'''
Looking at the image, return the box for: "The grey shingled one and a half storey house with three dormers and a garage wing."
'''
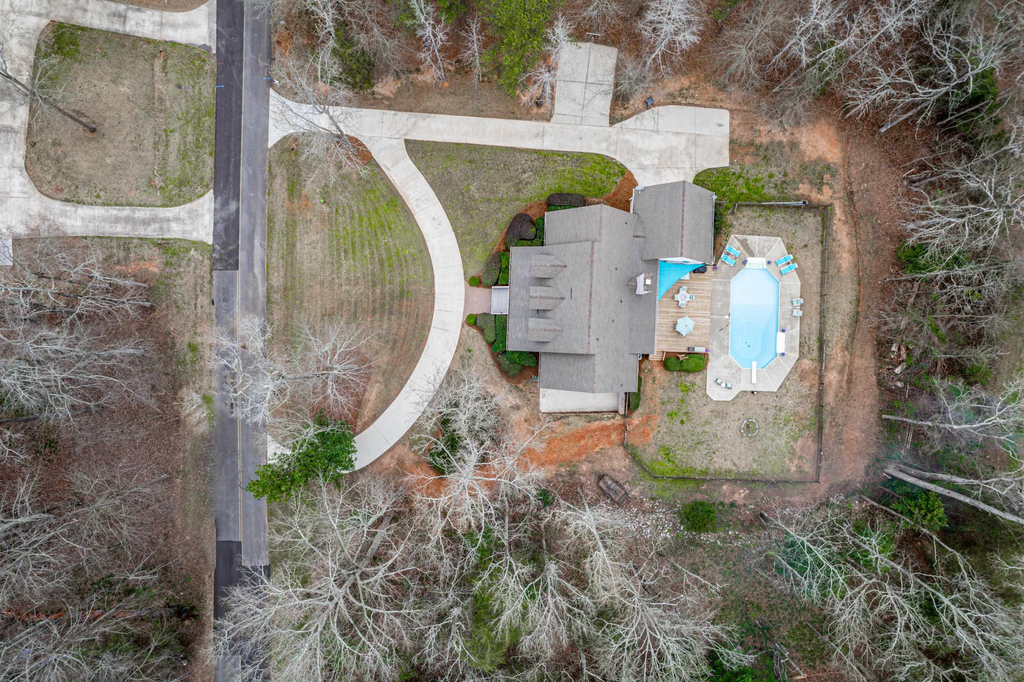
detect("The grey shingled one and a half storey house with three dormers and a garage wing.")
[505,181,716,393]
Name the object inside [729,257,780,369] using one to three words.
swimming pool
